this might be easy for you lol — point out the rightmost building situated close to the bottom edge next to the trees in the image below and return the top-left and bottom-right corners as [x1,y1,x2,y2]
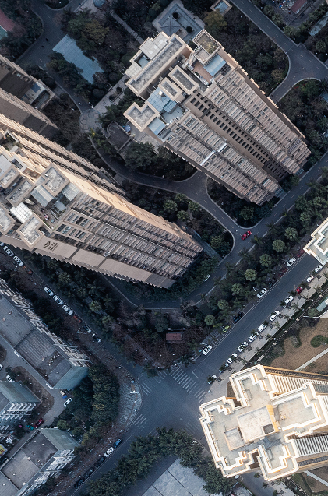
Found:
[199,363,328,482]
